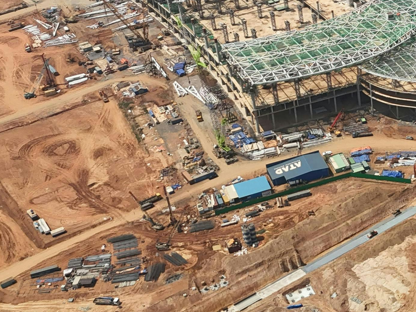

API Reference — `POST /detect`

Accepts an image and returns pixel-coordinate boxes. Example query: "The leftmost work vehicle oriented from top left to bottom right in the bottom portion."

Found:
[144,208,160,225]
